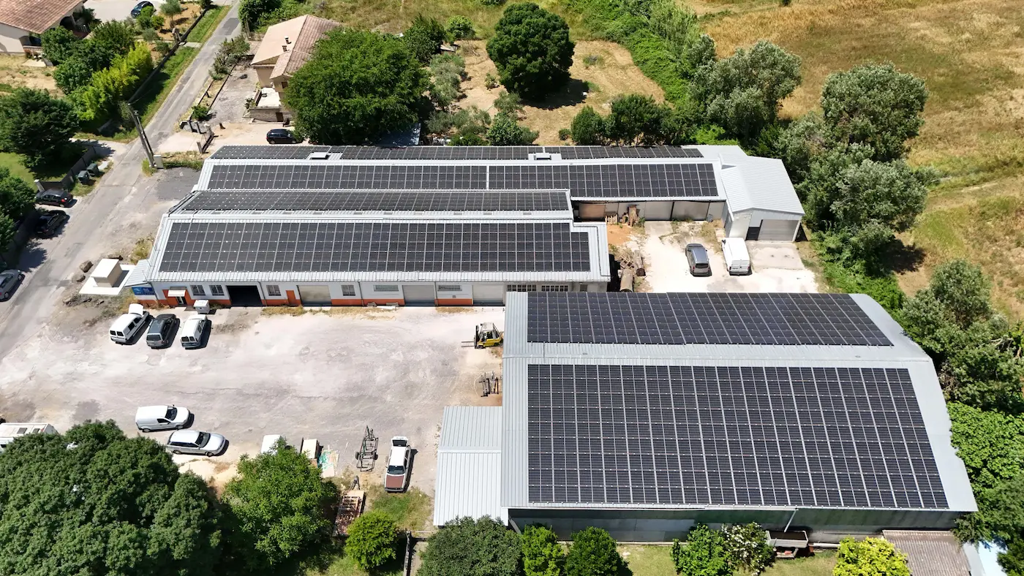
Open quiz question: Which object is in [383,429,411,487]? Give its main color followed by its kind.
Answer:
white car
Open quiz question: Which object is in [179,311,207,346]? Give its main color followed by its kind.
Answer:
white van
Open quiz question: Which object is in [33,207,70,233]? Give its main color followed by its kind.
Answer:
black car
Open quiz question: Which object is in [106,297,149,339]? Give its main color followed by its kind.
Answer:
white van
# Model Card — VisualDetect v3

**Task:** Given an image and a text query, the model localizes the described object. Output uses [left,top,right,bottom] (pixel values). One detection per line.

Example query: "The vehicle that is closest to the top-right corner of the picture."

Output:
[723,237,750,272]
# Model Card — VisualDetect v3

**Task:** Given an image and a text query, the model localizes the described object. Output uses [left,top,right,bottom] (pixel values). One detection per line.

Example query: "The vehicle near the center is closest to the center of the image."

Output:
[465,320,503,345]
